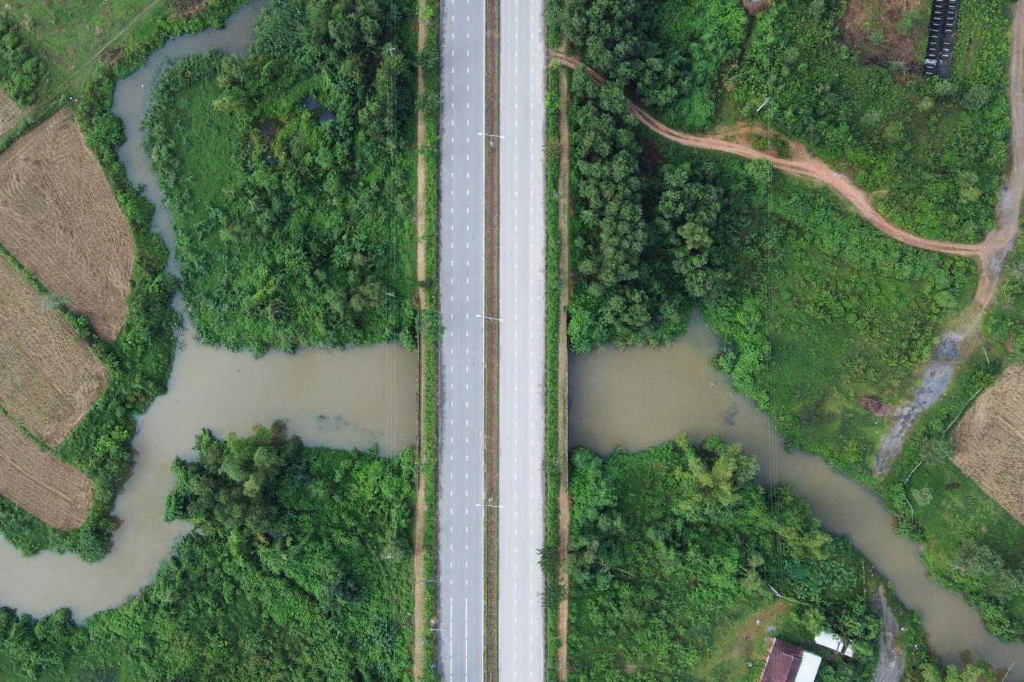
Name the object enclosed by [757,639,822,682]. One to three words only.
house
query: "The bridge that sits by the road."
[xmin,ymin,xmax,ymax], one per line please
[416,303,569,495]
